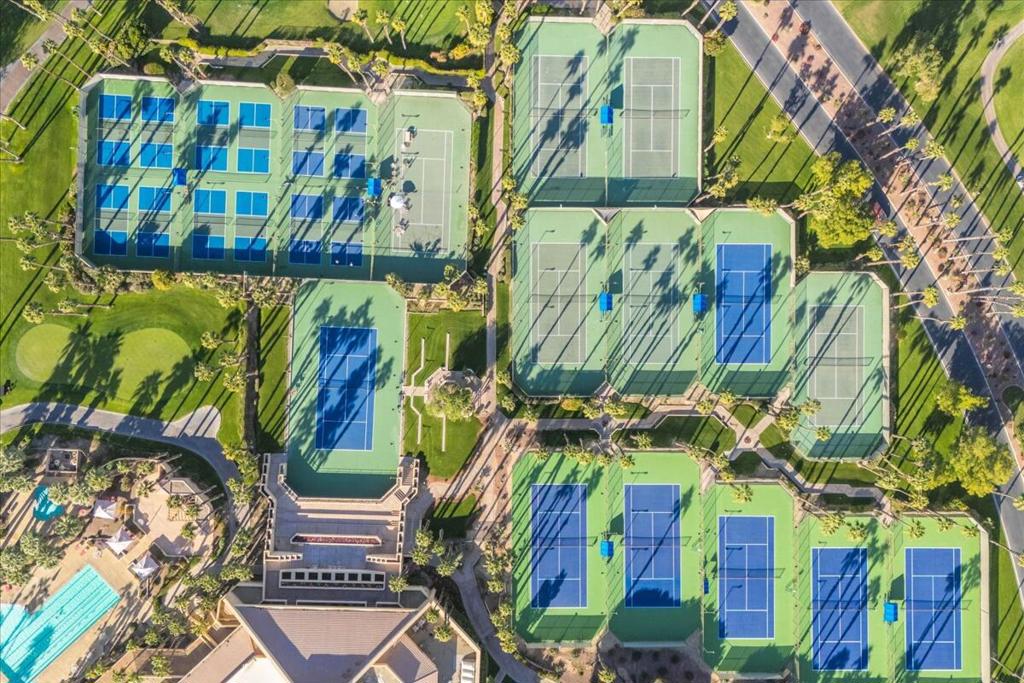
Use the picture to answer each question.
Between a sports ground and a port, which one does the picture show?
sports ground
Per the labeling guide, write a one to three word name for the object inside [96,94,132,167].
sports court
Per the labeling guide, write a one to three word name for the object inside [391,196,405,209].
umbrella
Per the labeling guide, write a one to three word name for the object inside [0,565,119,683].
swimming pool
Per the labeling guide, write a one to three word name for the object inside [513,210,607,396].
tennis court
